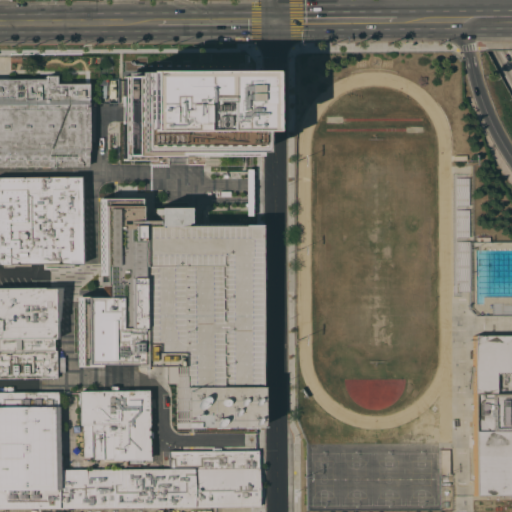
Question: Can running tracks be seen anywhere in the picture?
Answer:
Yes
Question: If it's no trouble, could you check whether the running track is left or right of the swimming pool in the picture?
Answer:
on the left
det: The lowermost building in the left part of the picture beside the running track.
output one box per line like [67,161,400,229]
[60,451,261,510]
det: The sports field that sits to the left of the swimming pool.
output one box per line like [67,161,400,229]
[312,86,438,414]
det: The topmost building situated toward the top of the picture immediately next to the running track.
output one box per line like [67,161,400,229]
[125,70,285,158]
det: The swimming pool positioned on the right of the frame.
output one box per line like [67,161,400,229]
[476,250,512,304]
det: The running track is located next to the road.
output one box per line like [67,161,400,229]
[298,72,453,428]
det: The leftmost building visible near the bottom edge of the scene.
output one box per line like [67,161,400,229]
[0,392,62,510]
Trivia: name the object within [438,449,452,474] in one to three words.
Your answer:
building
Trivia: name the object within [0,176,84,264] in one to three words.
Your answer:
building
